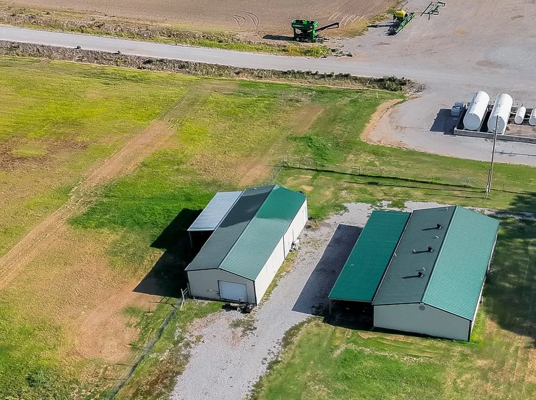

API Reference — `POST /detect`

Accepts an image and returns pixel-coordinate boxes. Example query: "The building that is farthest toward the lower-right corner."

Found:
[331,199,499,345]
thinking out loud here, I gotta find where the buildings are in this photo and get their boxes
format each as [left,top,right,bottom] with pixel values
[331,199,499,345]
[182,182,308,310]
